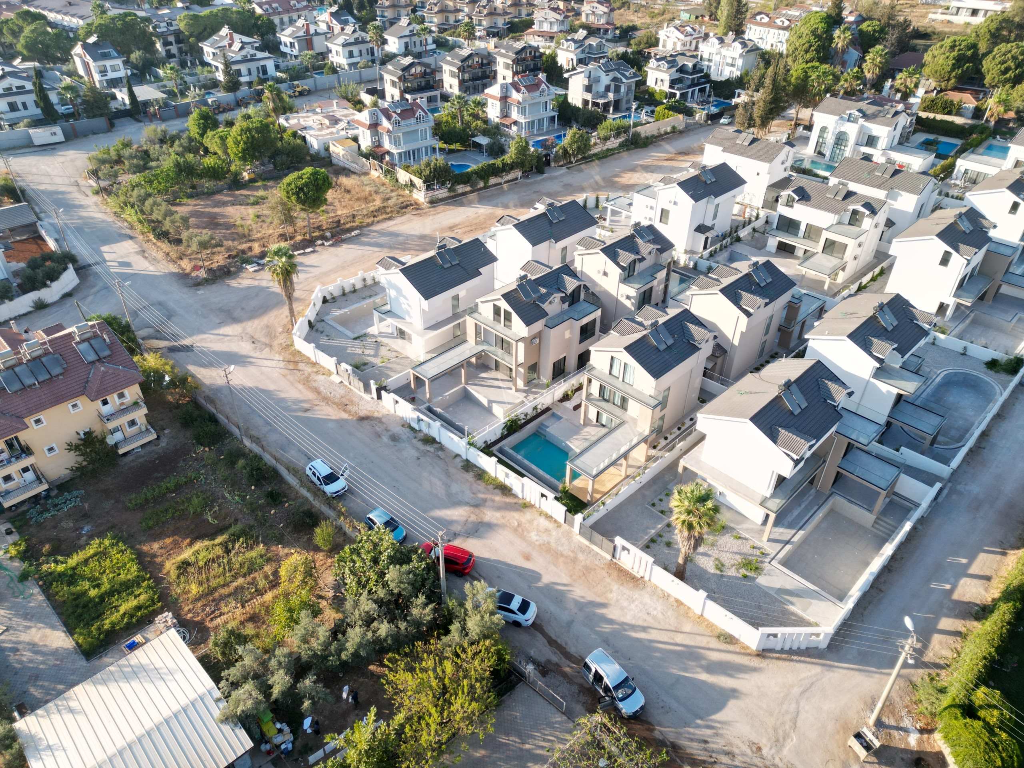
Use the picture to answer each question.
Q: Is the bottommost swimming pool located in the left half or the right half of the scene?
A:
right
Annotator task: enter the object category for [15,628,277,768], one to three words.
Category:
shed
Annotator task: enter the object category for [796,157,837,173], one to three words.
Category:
swimming pool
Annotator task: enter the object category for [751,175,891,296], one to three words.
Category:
house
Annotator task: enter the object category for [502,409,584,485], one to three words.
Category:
swimming pool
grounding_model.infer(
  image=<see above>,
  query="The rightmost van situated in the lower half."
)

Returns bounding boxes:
[583,646,643,717]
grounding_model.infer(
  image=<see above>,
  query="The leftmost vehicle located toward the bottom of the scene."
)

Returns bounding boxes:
[305,455,348,494]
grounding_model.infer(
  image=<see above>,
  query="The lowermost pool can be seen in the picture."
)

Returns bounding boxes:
[773,493,915,604]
